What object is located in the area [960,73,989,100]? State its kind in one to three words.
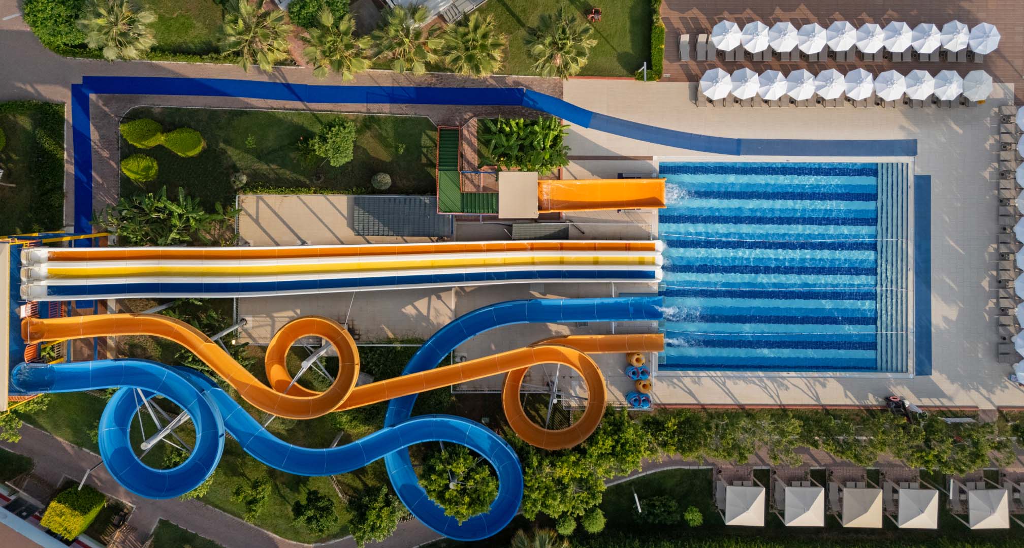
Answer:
umbrella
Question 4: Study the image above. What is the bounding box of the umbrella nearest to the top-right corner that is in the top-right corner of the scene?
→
[967,24,998,54]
